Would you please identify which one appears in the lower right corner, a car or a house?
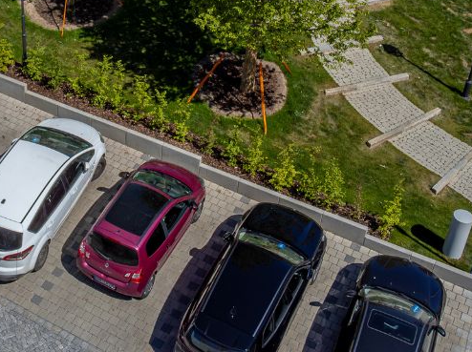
car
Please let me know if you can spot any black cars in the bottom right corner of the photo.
Yes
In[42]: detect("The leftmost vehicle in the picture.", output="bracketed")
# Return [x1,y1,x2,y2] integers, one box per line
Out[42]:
[0,116,108,280]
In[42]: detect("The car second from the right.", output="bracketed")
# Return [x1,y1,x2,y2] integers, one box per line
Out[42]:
[172,200,331,352]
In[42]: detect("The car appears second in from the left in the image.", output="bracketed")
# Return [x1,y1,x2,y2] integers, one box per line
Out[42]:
[72,165,204,302]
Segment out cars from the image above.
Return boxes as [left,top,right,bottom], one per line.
[72,165,204,302]
[315,251,449,352]
[0,116,108,280]
[172,200,331,352]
